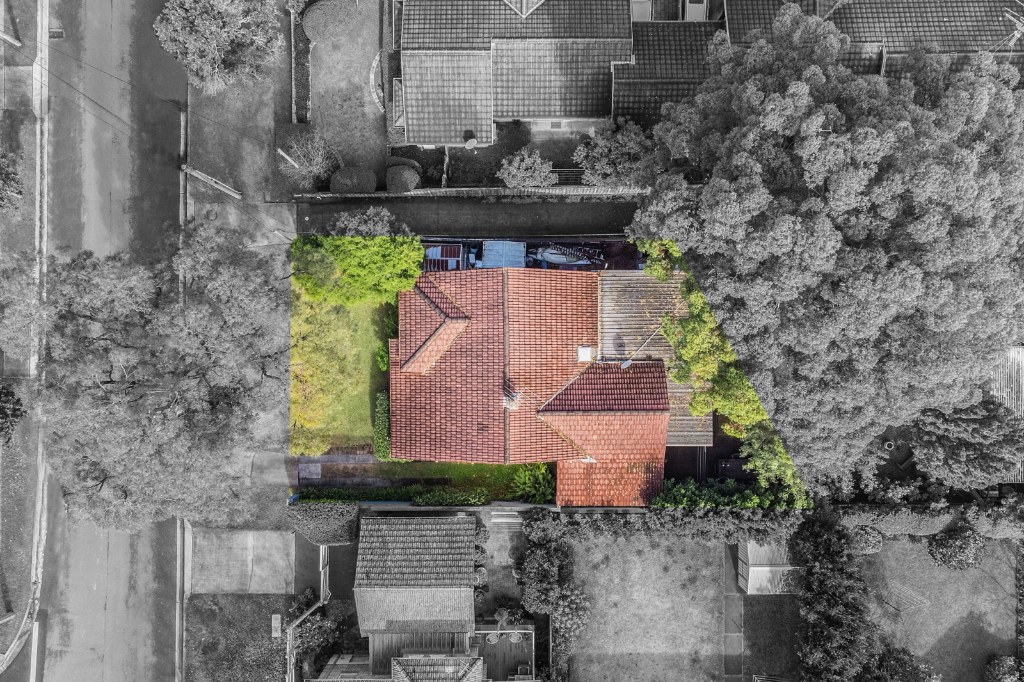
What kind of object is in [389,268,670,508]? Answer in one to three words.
house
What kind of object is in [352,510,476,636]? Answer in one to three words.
house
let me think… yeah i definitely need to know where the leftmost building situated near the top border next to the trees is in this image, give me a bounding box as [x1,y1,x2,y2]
[393,0,634,155]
